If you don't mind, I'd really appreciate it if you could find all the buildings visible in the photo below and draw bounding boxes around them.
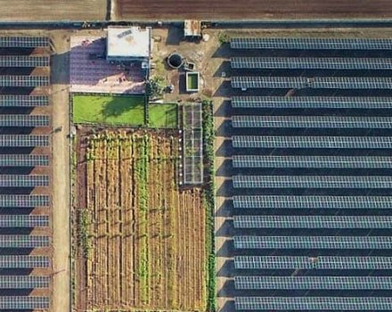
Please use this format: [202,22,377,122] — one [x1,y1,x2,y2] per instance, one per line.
[185,21,203,38]
[106,27,151,66]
